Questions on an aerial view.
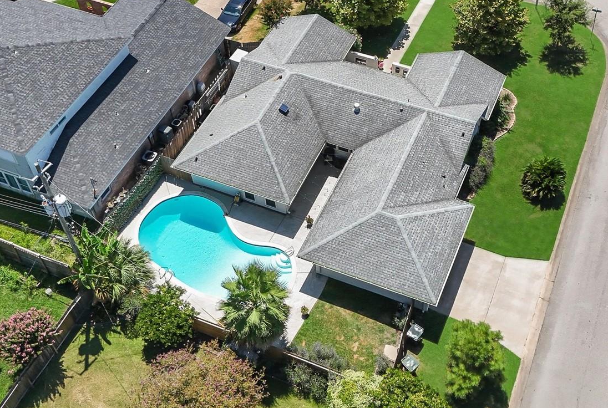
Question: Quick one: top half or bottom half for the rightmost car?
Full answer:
You can find the rightmost car in the top half.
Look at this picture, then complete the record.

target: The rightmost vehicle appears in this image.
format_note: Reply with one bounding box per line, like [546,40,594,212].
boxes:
[217,0,256,31]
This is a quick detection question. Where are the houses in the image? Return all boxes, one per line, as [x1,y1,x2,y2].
[171,13,506,315]
[0,0,232,225]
